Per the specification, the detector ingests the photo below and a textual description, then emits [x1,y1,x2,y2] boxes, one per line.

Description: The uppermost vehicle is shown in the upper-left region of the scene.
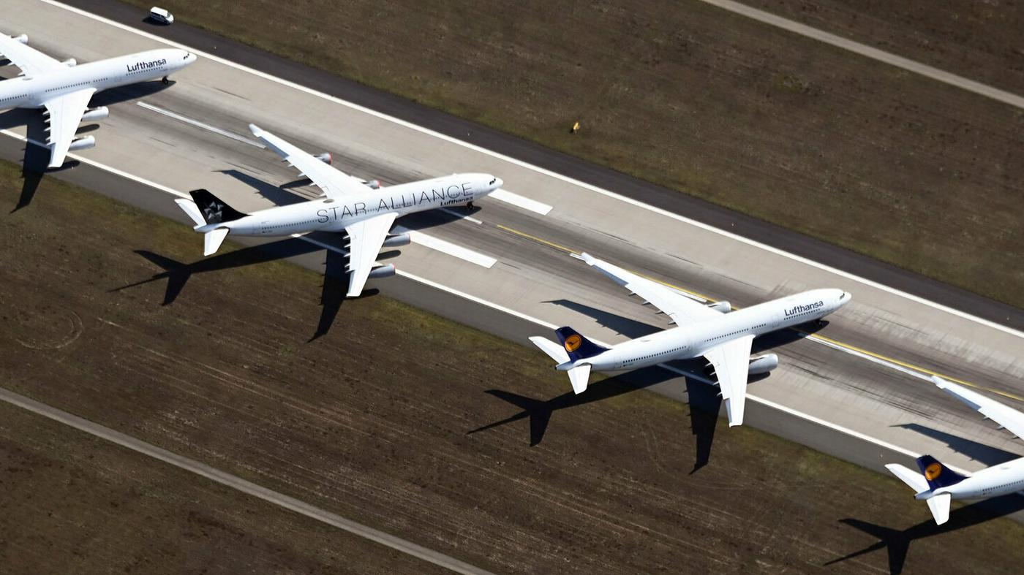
[148,10,173,27]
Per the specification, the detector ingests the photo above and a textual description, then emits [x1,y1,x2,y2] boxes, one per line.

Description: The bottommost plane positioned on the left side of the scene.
[174,122,503,297]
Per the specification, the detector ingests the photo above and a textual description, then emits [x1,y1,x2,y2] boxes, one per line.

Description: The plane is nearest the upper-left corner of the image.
[0,31,197,169]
